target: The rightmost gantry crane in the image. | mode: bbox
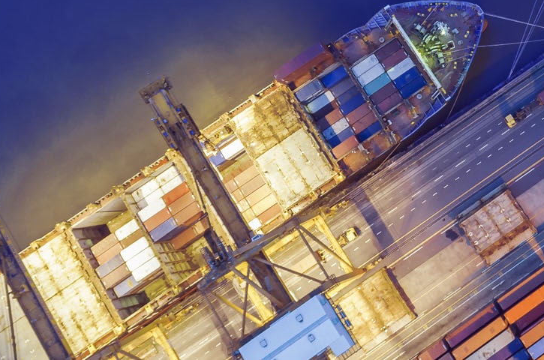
[135,73,404,360]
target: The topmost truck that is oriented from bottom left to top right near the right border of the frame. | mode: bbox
[502,97,543,130]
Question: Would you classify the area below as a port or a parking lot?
port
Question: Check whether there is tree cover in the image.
No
